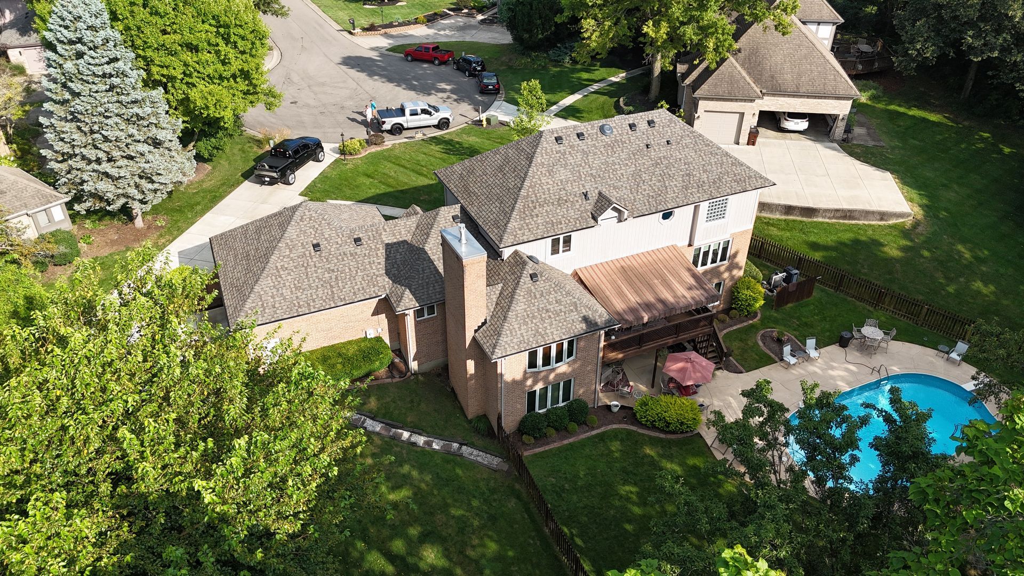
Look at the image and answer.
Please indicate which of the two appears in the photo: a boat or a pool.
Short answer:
pool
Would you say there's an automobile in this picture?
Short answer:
Yes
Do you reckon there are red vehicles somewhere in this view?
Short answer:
Yes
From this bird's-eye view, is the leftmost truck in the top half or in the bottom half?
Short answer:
top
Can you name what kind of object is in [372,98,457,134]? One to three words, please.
truck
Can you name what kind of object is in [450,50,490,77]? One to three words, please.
car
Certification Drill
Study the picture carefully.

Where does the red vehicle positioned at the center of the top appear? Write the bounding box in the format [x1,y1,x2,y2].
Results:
[401,41,456,65]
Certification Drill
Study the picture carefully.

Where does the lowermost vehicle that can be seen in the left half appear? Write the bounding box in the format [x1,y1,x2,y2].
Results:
[248,133,330,189]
